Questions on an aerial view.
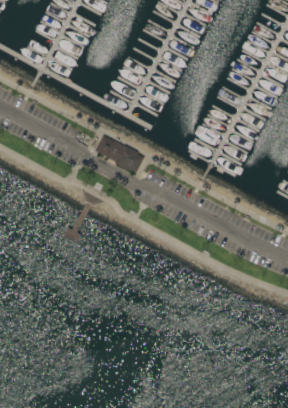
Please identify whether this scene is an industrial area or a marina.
marina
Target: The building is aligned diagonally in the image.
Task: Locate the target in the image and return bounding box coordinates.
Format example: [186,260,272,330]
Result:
[96,134,144,175]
